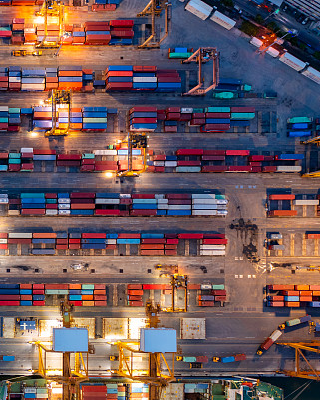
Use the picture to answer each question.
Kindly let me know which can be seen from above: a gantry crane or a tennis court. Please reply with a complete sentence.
Of the two, only a gantry crane appears.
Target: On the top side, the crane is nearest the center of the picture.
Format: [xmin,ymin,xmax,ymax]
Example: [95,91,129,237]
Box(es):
[117,134,147,180]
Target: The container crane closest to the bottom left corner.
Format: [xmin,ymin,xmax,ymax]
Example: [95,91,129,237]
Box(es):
[30,299,88,400]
